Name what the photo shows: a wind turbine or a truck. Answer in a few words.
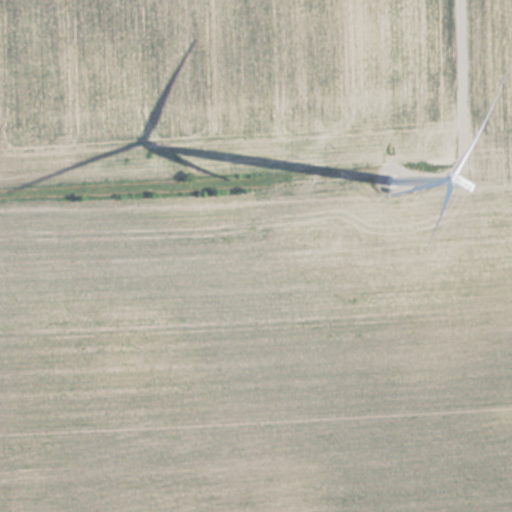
wind turbine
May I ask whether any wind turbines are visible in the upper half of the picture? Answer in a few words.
Yes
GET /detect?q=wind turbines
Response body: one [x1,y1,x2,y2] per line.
[383,77,506,240]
